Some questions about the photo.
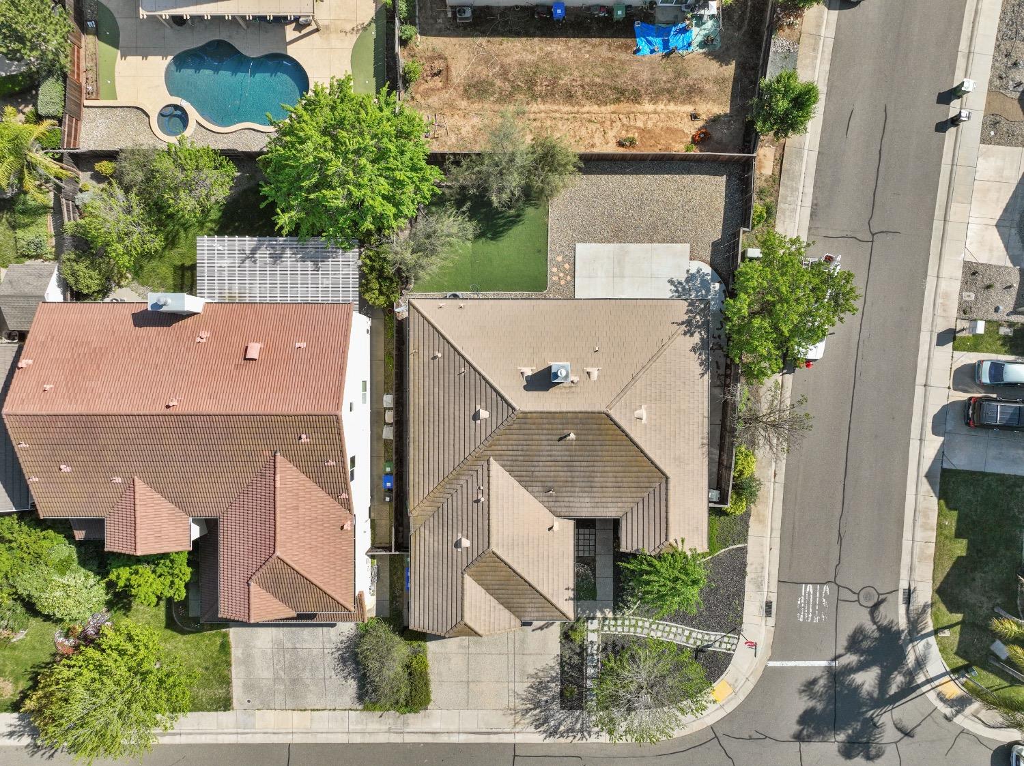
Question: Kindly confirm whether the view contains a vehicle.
Yes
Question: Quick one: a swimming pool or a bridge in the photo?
swimming pool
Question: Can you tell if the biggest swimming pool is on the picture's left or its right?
left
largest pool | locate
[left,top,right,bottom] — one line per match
[163,36,308,125]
